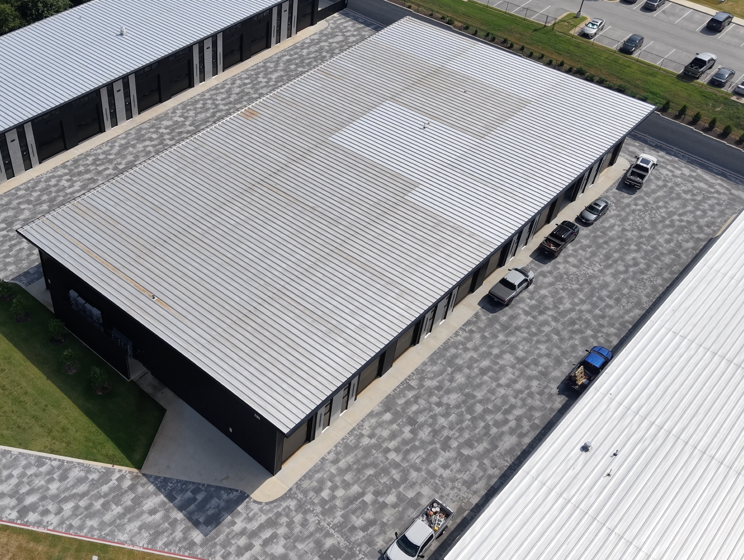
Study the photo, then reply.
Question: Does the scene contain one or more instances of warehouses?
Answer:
Yes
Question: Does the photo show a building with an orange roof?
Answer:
No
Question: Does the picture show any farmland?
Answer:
No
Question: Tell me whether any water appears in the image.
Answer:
No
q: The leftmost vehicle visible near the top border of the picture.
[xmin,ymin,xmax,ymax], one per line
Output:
[579,18,605,36]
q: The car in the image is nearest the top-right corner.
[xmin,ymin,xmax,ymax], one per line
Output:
[705,10,734,32]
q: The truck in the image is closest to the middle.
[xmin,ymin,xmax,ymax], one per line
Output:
[485,263,543,313]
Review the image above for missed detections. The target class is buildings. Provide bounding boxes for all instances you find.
[432,207,744,560]
[0,0,320,184]
[15,17,657,477]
